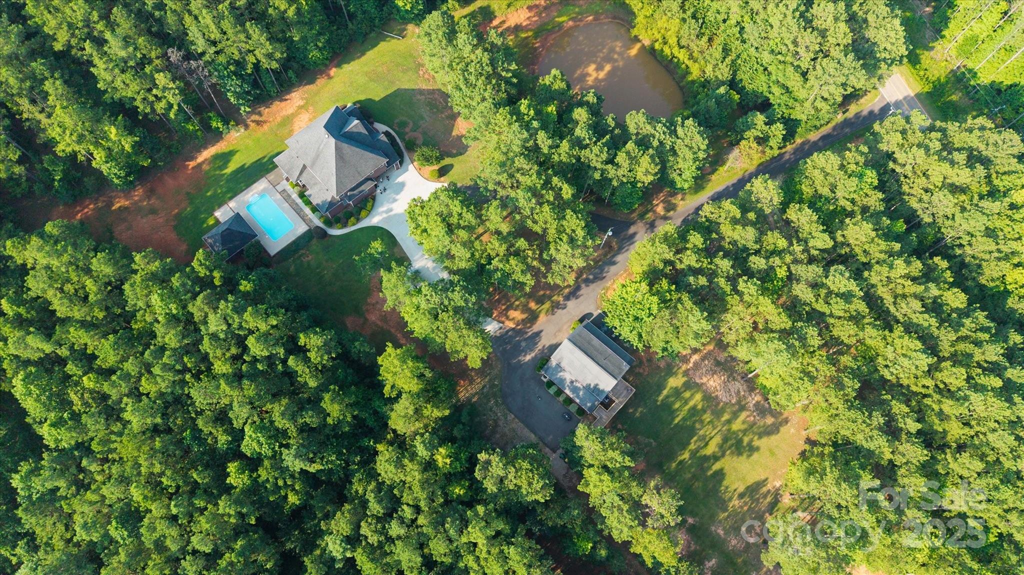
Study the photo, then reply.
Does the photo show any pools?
Yes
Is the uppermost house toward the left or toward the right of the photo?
left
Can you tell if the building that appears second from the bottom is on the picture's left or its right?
left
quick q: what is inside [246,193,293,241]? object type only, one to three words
swimming pool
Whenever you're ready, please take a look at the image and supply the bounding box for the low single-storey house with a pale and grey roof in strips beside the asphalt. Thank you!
[540,319,636,414]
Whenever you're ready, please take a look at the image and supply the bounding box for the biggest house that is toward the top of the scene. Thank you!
[272,104,403,219]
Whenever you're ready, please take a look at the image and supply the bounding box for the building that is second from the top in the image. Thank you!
[203,212,259,263]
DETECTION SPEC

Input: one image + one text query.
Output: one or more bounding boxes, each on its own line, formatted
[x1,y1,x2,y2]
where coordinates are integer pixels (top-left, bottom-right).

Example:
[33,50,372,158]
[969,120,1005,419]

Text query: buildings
[203,212,259,263]
[540,319,636,414]
[272,104,403,219]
